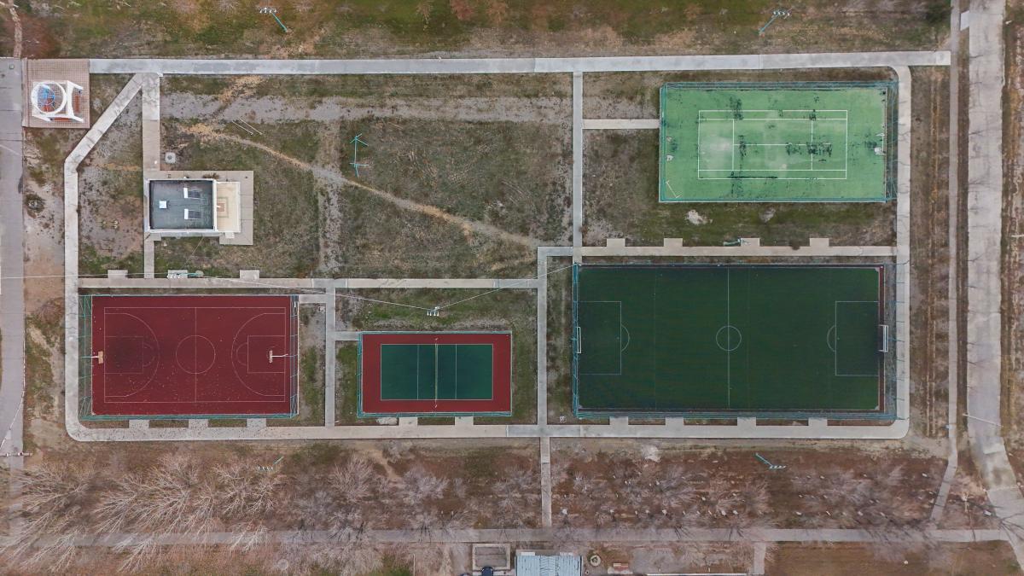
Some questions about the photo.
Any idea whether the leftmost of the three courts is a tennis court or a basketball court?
basketball court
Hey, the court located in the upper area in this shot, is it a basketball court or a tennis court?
tennis court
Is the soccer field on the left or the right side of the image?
right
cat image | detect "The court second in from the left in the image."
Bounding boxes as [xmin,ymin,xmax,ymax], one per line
[362,333,512,414]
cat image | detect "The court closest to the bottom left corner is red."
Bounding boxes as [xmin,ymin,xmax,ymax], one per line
[91,296,299,417]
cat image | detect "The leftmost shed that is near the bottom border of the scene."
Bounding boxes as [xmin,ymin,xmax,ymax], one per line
[473,541,510,569]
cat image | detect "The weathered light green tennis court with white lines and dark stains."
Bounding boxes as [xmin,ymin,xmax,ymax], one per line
[660,87,887,203]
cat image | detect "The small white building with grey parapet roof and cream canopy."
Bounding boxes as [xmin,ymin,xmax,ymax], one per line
[148,179,243,239]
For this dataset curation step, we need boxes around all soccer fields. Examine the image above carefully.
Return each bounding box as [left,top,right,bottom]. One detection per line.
[573,263,885,413]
